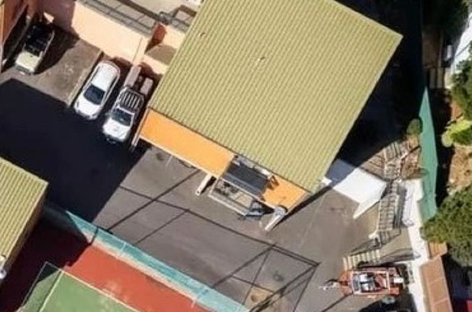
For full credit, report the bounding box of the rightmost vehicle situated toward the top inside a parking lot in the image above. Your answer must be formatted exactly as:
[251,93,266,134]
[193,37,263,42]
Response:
[104,80,151,148]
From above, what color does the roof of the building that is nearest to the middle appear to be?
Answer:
yellow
